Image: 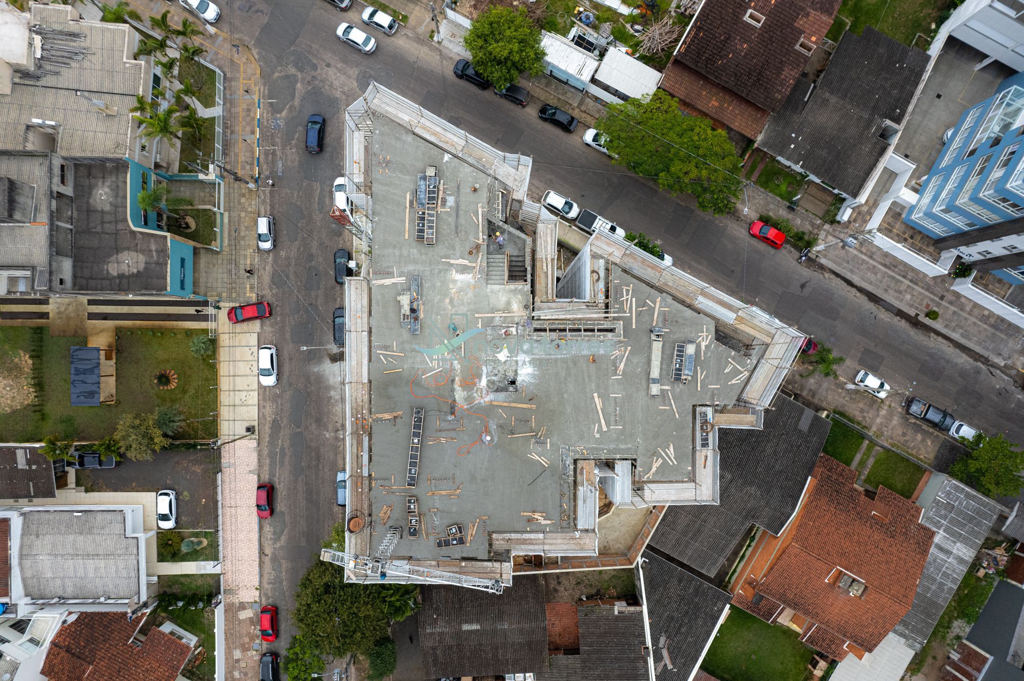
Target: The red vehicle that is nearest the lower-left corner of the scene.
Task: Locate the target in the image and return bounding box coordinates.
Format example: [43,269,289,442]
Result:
[256,606,277,646]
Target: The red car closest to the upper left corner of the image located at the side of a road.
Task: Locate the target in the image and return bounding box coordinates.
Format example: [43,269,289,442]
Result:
[226,301,269,324]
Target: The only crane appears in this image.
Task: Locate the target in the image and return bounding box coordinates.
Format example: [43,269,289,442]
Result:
[318,524,504,599]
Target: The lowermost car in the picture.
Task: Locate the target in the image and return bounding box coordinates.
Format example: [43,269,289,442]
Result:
[258,654,278,681]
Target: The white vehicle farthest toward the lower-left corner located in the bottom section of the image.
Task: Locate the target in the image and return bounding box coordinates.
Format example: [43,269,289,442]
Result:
[151,491,174,532]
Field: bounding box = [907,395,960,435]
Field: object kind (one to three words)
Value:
truck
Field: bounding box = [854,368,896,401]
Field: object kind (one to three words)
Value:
car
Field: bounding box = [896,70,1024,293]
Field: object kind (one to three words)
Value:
building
